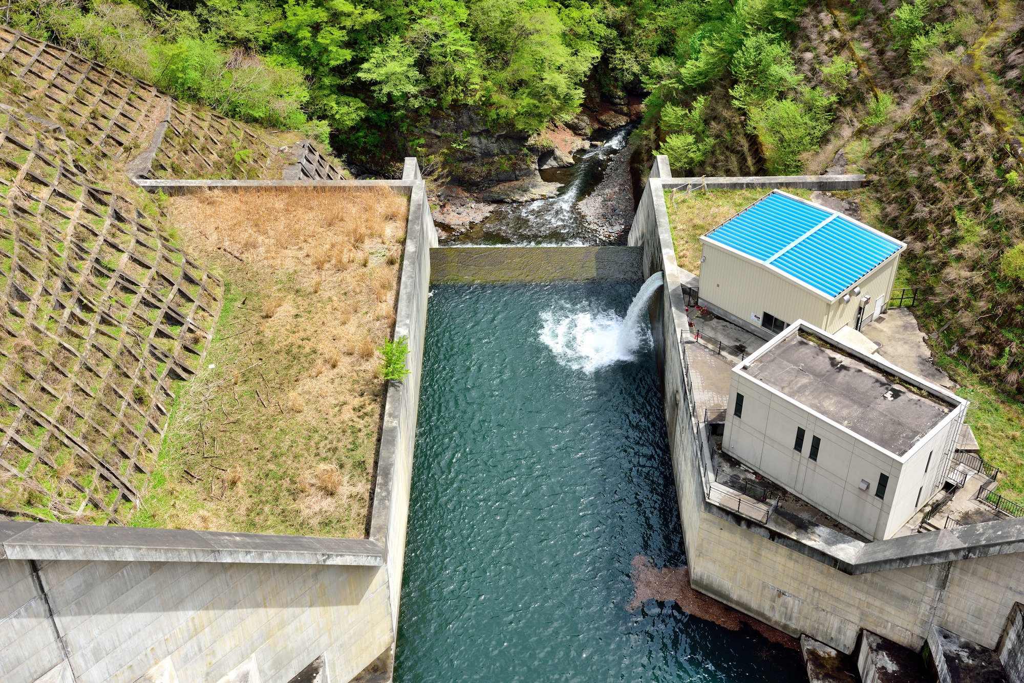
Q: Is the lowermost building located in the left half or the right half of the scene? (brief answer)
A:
right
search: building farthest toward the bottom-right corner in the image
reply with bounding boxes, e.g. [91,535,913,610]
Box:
[721,321,976,542]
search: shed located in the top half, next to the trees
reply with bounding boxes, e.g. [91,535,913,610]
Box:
[699,189,909,341]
